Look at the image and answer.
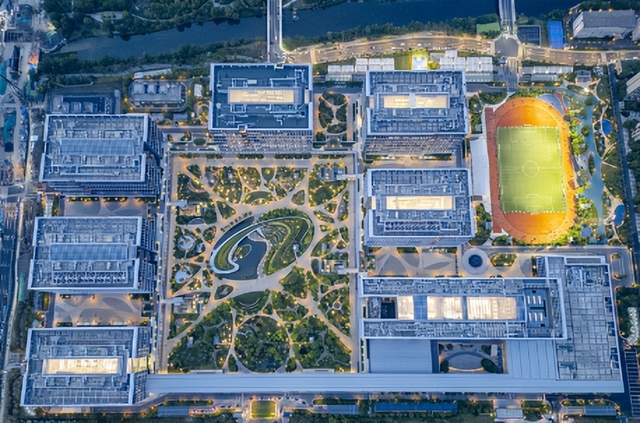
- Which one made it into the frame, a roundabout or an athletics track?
athletics track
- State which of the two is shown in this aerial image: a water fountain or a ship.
water fountain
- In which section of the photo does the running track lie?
right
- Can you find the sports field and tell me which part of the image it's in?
right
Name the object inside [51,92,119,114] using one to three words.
building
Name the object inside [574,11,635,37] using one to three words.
building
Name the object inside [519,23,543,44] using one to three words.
sports court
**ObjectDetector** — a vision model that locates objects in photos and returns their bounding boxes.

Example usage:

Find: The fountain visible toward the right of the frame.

[461,247,489,275]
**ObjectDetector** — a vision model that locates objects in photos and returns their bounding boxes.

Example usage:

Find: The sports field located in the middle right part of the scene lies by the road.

[485,97,579,244]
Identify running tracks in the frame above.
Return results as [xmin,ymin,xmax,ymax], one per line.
[485,97,579,244]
